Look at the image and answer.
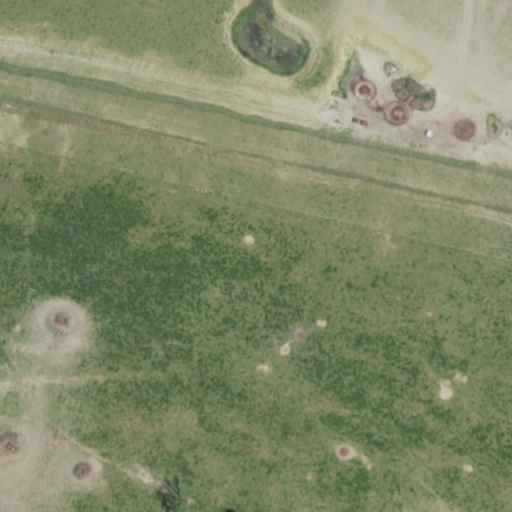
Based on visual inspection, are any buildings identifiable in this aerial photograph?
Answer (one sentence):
No, there isn't any building down there.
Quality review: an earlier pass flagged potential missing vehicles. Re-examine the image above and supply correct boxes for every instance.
[332,92,347,98]
[352,118,368,126]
